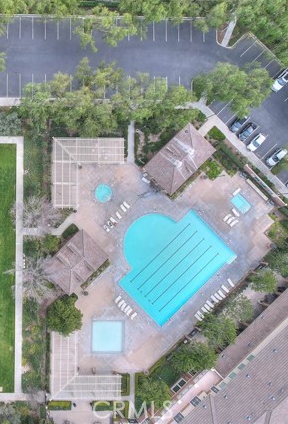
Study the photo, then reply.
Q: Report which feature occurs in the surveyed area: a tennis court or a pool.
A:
pool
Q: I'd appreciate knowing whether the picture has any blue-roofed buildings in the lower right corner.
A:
No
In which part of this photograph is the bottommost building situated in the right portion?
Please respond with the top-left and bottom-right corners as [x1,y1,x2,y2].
[139,261,288,424]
